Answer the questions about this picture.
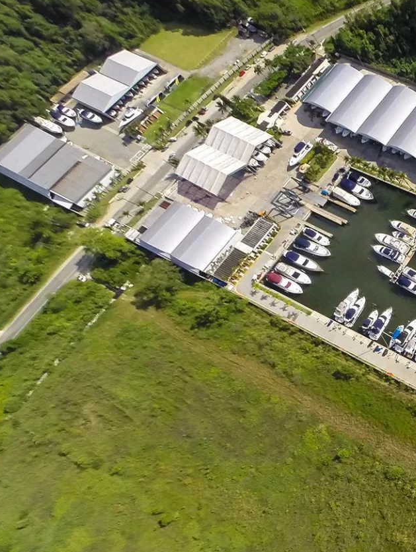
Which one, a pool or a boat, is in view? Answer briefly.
boat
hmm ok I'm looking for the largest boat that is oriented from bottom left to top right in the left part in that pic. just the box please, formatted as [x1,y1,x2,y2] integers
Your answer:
[113,106,142,127]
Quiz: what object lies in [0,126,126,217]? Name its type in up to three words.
building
